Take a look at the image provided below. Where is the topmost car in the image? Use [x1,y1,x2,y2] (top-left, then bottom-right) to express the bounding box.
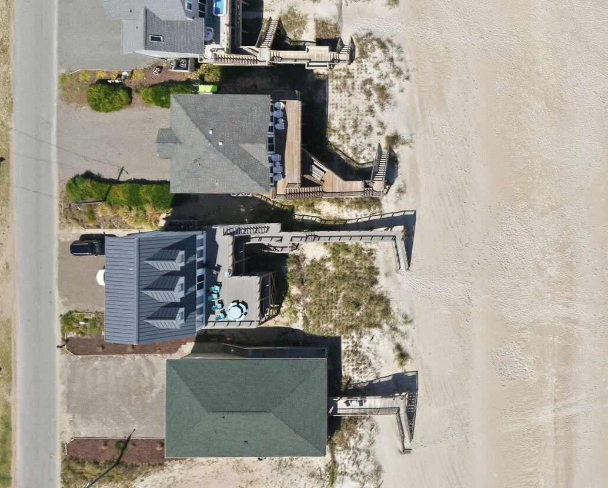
[72,239,105,256]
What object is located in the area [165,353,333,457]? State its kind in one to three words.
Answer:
building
